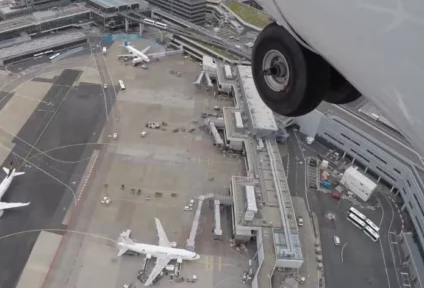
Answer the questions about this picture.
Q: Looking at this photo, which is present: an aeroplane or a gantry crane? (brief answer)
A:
aeroplane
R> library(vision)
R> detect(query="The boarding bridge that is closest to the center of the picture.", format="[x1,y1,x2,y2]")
[206,120,225,149]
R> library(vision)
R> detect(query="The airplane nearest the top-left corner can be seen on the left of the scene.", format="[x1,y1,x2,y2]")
[115,36,150,62]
